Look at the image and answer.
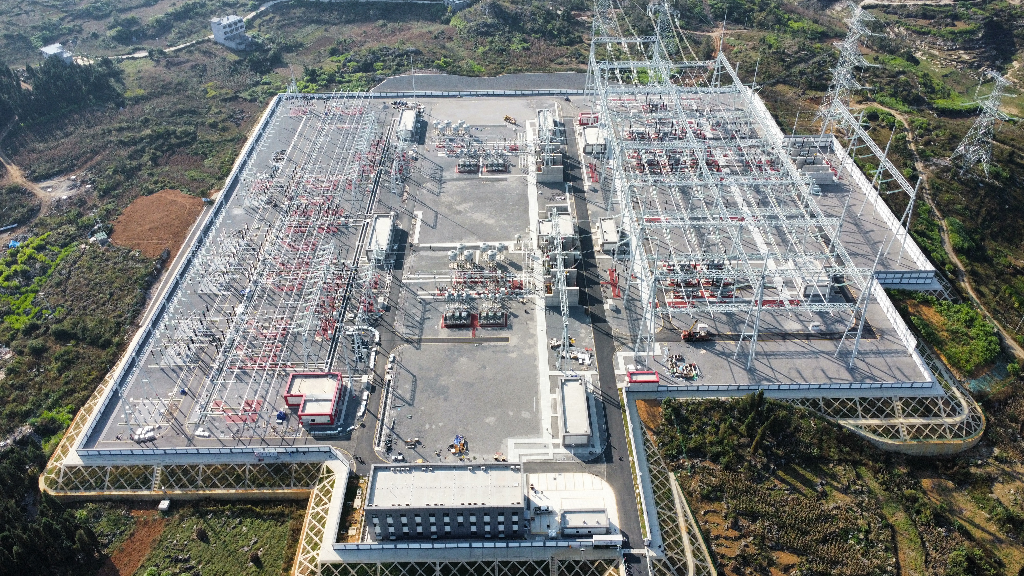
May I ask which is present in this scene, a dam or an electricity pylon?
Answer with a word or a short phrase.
electricity pylon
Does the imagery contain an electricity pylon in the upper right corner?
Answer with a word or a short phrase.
Yes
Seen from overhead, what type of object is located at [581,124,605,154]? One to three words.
house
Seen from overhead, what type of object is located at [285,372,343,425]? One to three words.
building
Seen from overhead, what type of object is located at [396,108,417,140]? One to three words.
house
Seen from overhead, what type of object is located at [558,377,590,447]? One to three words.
building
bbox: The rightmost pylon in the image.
[927,69,1008,183]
